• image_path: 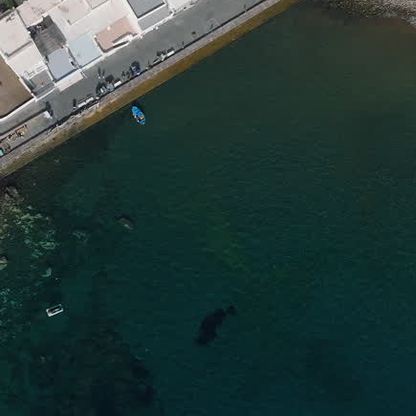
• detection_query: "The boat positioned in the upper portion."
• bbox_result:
[133,106,146,126]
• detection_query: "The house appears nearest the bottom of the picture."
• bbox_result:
[25,67,54,99]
